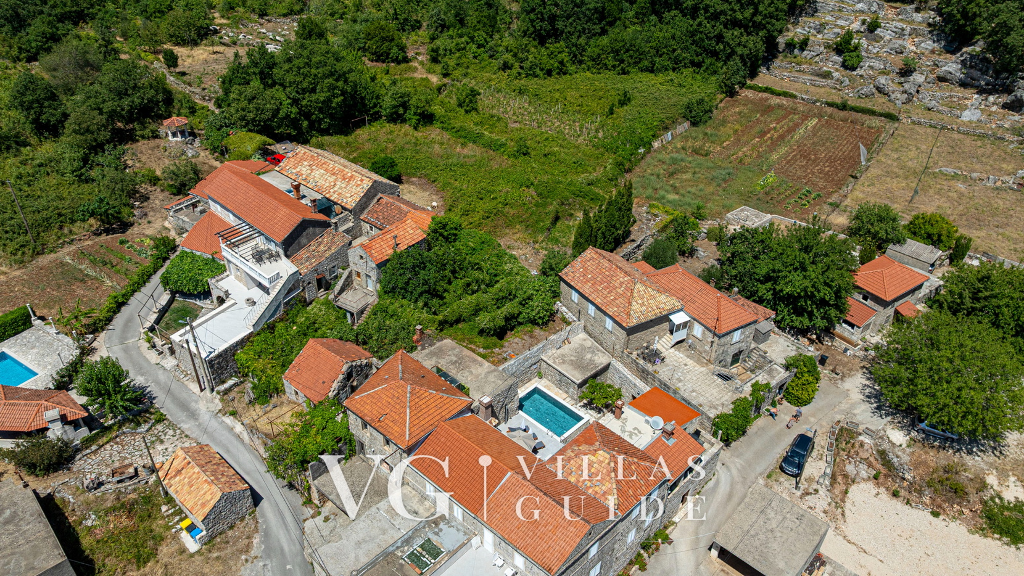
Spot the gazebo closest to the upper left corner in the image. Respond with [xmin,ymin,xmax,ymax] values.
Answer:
[156,116,190,144]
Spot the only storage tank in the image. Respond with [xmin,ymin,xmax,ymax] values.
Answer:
[726,206,772,234]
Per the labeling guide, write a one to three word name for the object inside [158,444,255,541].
barn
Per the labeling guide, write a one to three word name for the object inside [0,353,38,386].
swimming pool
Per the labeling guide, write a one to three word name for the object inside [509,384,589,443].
swimming pool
